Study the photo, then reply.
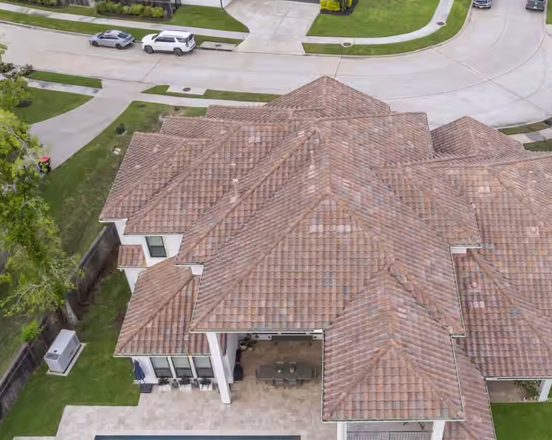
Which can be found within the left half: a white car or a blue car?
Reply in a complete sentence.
There is a white car within the left half.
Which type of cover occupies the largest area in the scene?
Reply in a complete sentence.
What you mostly see from above here is buildings.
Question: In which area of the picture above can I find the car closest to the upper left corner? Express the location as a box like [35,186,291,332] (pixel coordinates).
[84,29,133,50]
